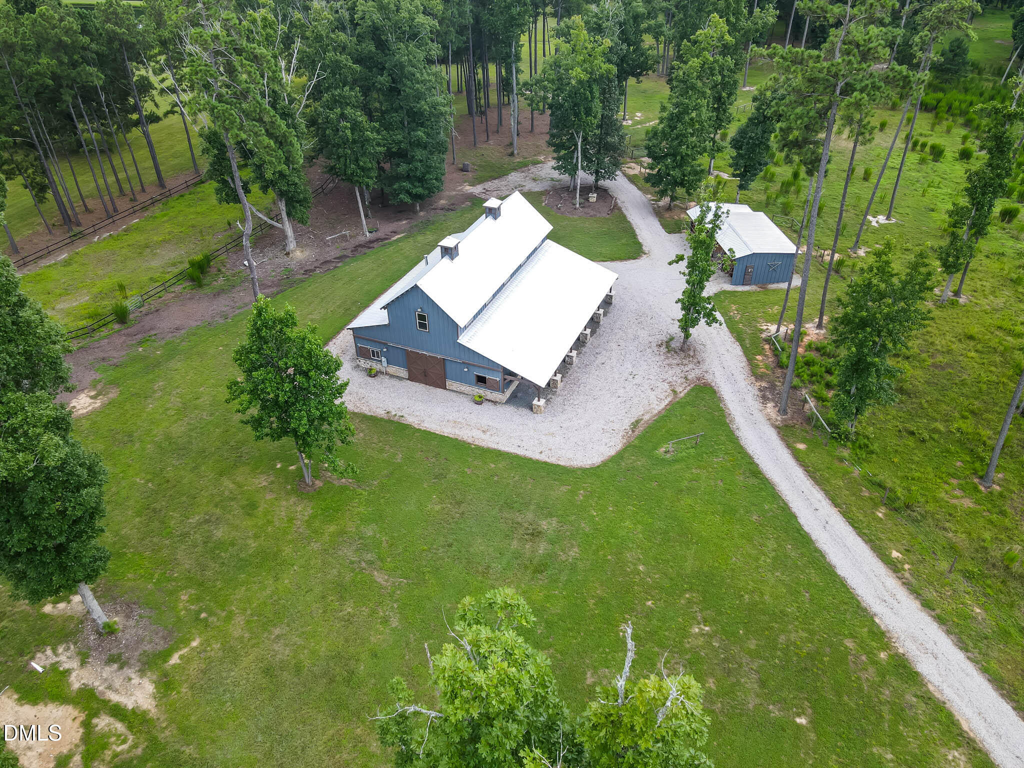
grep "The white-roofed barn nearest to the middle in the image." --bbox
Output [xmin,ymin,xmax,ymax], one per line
[344,191,618,411]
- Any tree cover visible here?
Yes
